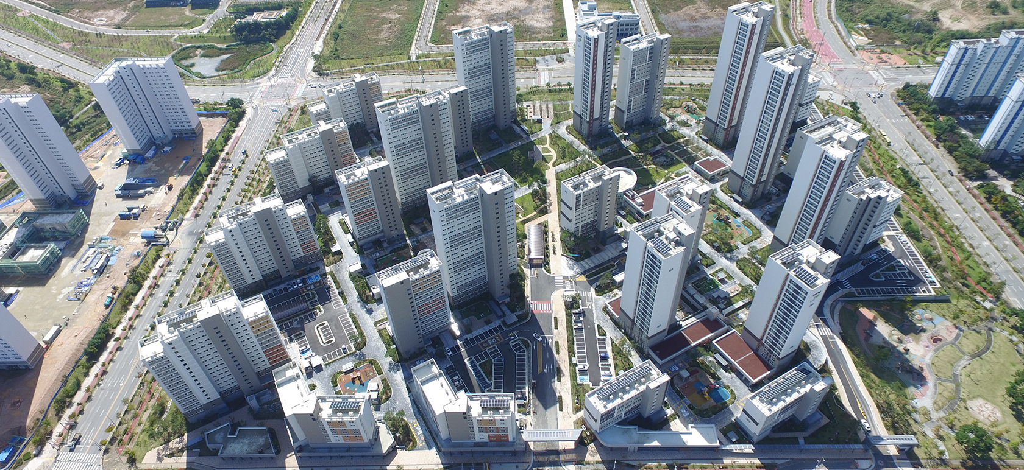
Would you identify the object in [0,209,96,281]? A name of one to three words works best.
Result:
building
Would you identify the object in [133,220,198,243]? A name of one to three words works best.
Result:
shed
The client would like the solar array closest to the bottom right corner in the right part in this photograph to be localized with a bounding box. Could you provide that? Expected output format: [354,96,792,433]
[755,363,817,403]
